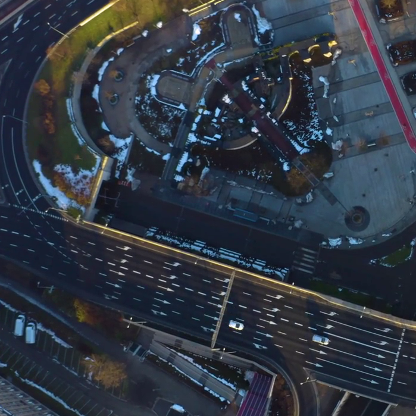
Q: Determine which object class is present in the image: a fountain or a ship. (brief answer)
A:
fountain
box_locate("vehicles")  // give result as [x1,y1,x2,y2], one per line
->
[228,321,244,329]
[310,335,329,345]
[9,315,25,336]
[20,323,36,344]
